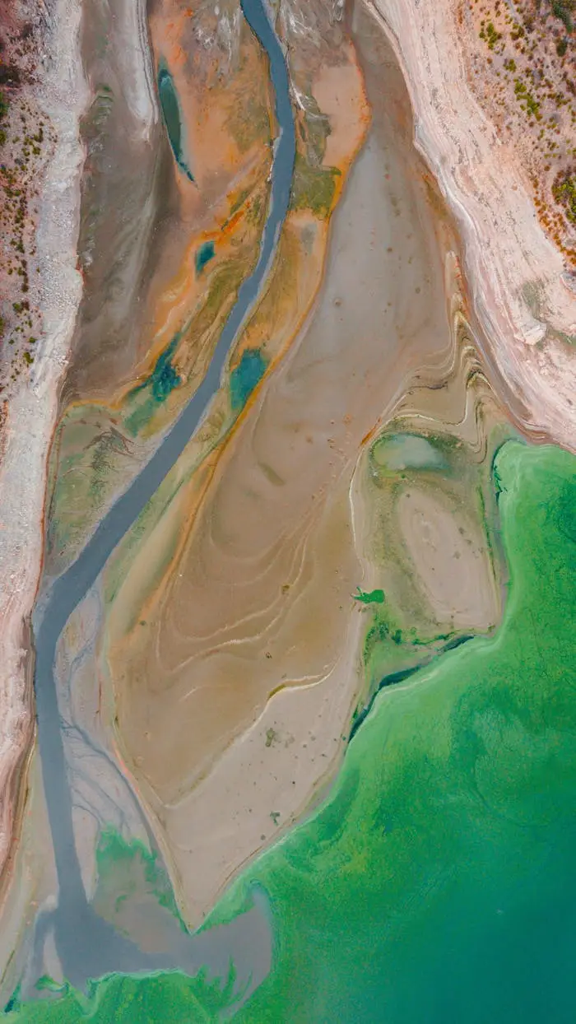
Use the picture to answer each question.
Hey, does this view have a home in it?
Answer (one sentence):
No, I can't see a single home in this photo.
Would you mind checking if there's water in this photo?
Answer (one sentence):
Yes, there is water in the image.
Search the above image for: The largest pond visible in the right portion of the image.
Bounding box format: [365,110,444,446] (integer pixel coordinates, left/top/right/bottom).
[372,432,447,472]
